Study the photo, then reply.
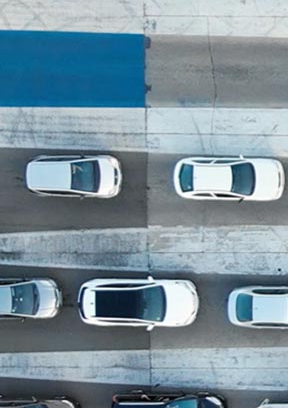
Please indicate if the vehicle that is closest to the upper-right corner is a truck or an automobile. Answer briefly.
automobile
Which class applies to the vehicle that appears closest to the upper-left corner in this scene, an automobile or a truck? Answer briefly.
automobile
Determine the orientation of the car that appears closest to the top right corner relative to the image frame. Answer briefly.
from side to side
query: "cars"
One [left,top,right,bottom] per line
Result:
[23,152,123,201]
[173,154,287,205]
[0,275,64,324]
[77,277,201,330]
[228,285,288,330]
[109,391,228,408]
